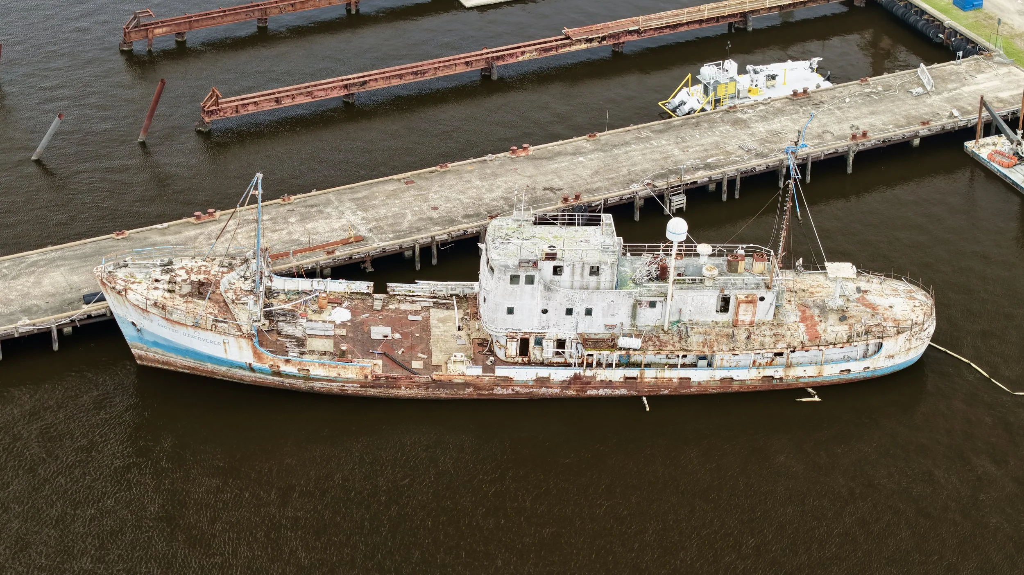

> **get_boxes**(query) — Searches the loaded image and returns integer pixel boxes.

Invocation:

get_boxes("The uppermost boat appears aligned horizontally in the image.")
[658,36,833,118]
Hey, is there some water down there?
Yes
